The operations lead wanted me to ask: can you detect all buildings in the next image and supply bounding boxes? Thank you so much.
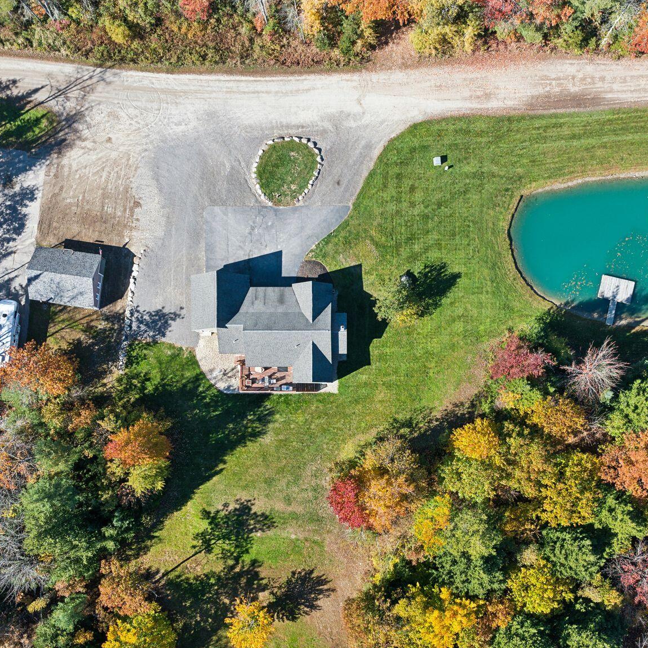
[189,272,347,382]
[26,246,106,308]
